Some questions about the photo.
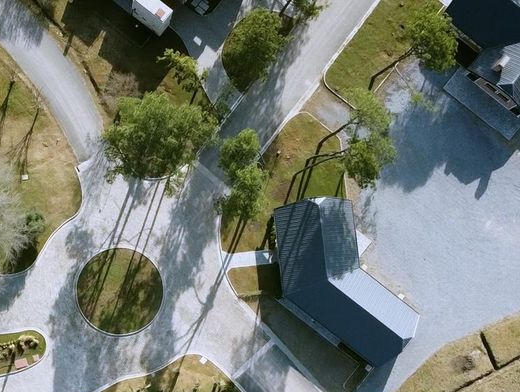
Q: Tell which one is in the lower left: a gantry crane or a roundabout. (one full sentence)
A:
It is a roundabout that can be seen in the lower left.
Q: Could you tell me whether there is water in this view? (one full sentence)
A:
No, no water is visible.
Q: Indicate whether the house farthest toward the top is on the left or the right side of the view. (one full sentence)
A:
You can find the house farthest toward the top on the right side of the picture.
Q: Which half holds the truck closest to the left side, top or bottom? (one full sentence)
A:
The truck closest to the left side sits in the top half of the picture.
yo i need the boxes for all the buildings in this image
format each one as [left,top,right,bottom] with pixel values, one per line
[434,0,520,141]
[269,194,423,371]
